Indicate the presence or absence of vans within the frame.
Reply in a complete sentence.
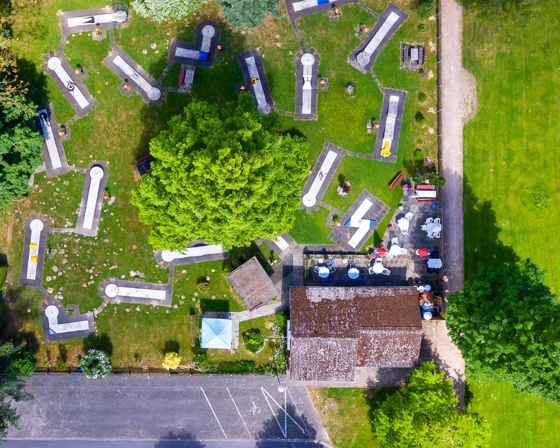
No, the picture doesn't show any van.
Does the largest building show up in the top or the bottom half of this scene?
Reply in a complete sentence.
The largest building sits in the bottom half of the picture.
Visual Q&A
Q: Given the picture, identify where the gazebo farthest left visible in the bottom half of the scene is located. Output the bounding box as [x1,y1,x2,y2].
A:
[201,313,232,349]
